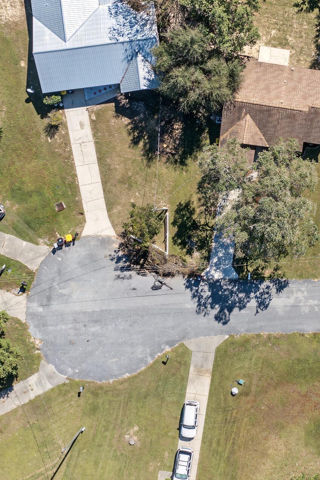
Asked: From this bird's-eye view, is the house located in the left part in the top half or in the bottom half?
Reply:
top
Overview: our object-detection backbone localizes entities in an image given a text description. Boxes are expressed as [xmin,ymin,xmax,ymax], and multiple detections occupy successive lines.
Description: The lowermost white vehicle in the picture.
[172,448,192,480]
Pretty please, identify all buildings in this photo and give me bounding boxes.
[31,0,164,93]
[218,57,320,149]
